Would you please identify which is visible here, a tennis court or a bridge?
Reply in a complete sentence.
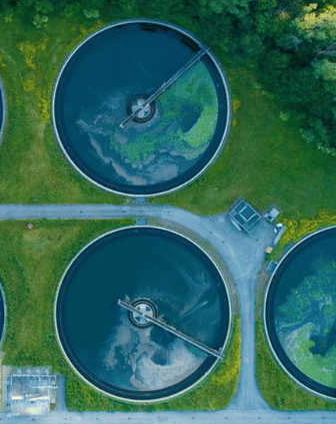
The image shows a bridge.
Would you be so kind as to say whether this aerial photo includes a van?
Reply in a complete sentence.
No, I find no van anywhere in the image.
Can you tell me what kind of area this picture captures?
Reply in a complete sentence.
The area seen from above is an industrial area.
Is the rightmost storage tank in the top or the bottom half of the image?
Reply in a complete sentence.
The bottom half of the photo is where the rightmost storage tank is.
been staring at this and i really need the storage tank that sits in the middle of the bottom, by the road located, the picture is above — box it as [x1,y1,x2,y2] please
[53,225,232,404]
